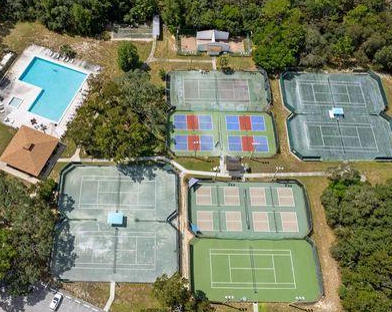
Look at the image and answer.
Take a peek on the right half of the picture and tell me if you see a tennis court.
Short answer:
Yes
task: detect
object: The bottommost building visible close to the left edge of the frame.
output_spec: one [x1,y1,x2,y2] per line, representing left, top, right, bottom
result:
[0,126,64,180]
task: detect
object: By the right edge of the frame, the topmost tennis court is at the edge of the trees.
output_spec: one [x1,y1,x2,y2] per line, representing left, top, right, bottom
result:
[279,74,384,115]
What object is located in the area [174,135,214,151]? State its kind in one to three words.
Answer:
sports court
